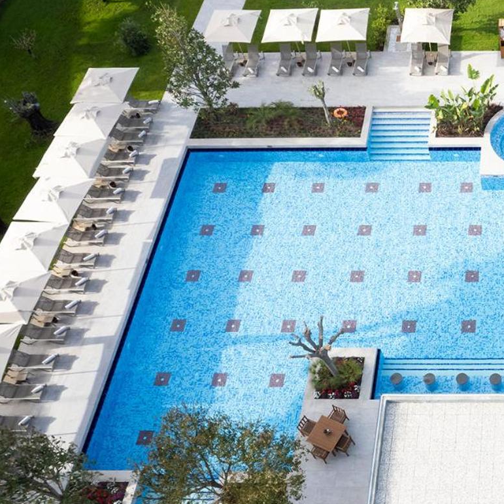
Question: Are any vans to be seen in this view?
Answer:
No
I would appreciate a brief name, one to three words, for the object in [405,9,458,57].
umbrella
